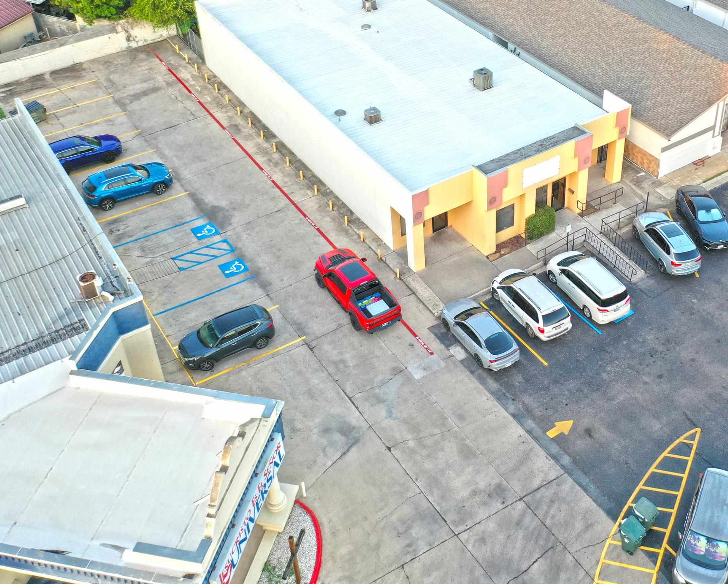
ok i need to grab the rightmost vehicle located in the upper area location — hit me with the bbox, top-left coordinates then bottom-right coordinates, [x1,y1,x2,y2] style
[672,184,728,252]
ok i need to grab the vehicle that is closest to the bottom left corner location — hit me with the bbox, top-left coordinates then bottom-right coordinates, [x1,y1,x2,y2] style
[174,301,280,373]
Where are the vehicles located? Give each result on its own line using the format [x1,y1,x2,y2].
[440,300,528,381]
[77,161,177,213]
[309,245,407,337]
[174,301,280,373]
[50,124,144,170]
[542,250,633,327]
[664,466,728,584]
[630,208,703,281]
[672,184,728,252]
[489,270,579,351]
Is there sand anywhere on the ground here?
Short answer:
No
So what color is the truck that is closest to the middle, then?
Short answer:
red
